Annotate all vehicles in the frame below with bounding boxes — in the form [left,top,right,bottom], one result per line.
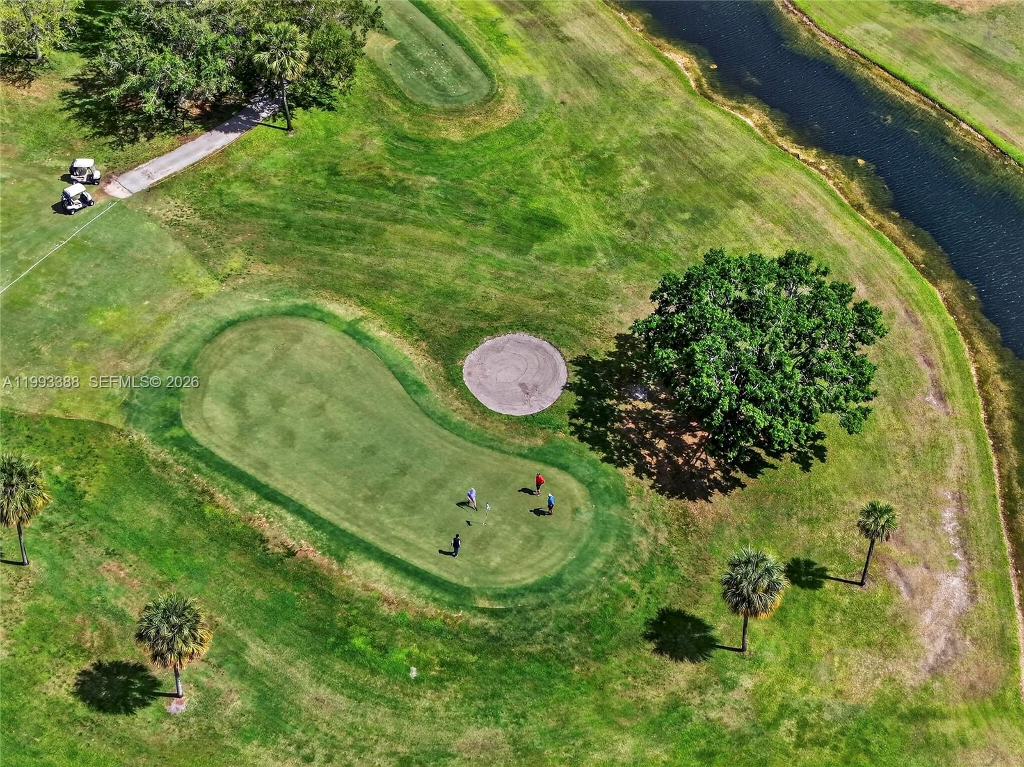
[70,156,104,185]
[61,181,95,213]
